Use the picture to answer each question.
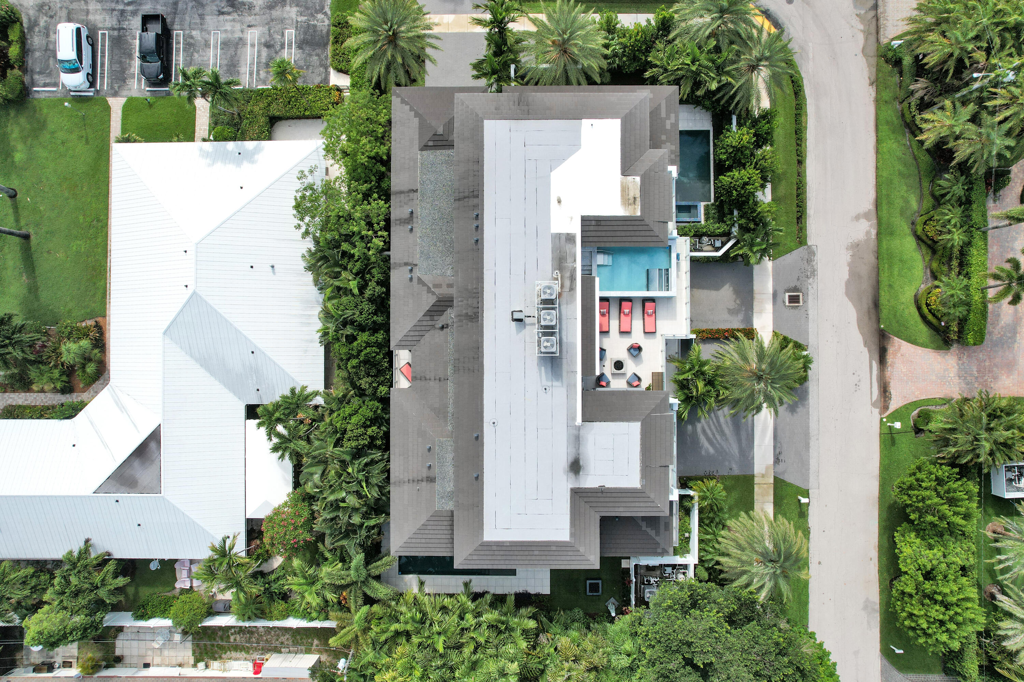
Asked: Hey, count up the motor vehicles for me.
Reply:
2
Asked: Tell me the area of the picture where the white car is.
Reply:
top left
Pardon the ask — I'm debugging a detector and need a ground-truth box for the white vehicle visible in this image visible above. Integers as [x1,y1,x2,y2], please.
[54,22,94,92]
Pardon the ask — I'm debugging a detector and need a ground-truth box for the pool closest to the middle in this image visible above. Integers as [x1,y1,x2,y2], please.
[590,239,676,298]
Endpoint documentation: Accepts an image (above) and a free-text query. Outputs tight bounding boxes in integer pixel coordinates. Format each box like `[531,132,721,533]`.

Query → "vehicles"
[136,12,174,84]
[54,22,94,92]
